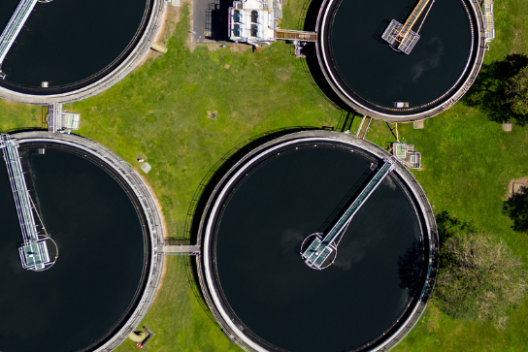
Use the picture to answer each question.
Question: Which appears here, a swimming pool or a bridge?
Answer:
bridge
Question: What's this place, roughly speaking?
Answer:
industrial area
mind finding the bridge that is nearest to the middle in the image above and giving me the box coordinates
[297,158,399,270]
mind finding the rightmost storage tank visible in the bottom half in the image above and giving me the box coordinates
[195,130,438,352]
